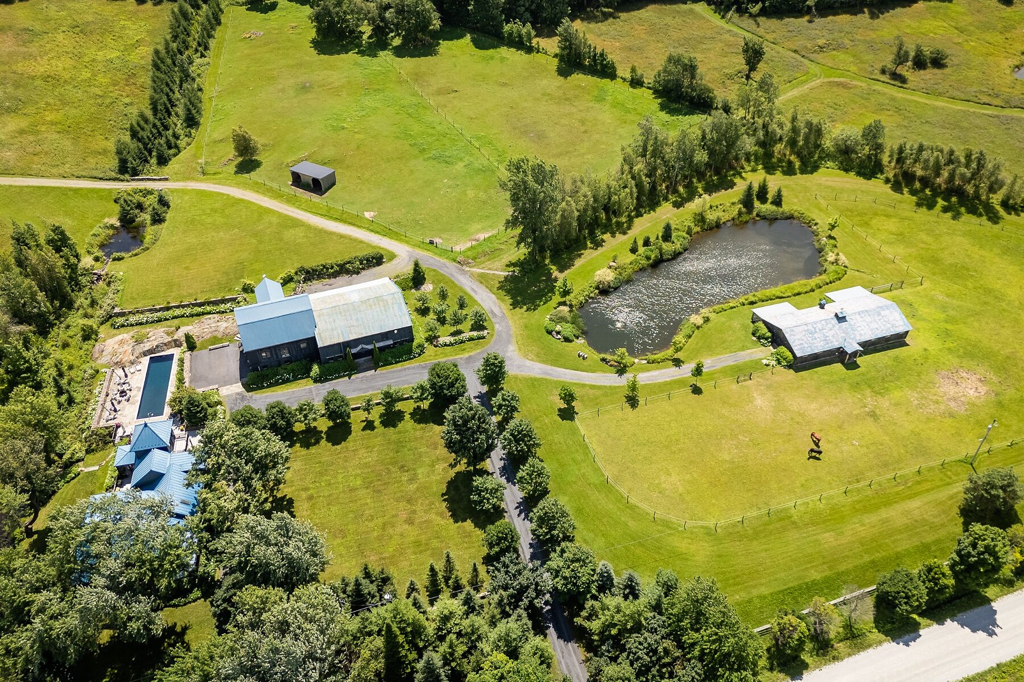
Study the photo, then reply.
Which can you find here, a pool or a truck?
pool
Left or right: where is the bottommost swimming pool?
left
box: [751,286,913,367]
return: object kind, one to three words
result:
building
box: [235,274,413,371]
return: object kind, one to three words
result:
barn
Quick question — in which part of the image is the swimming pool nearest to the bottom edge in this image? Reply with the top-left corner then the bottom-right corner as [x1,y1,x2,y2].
[134,351,177,421]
